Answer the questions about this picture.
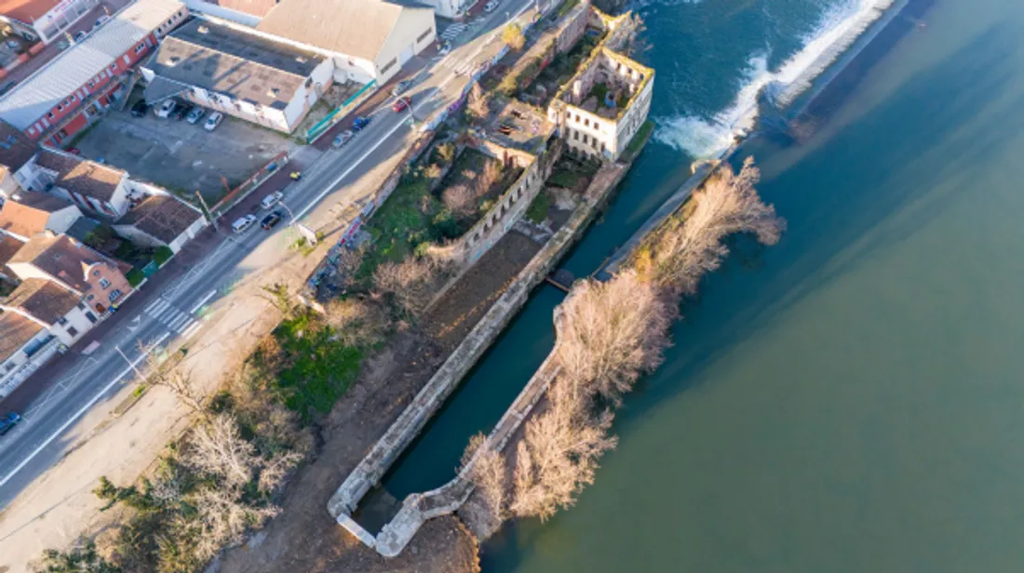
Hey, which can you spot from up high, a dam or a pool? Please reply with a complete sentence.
Looking from above, you can make out a dam.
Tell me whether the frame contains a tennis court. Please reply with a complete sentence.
No, no tennis court is visible in the view.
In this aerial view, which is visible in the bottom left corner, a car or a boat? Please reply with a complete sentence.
Visible in the bottom left corner is a car.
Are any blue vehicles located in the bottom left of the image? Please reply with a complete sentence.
Yes, a blue vehicle shows up in the bottom left of the image.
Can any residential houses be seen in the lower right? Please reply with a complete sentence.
No, no residential house is visible in the lower right.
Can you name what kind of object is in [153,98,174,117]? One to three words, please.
car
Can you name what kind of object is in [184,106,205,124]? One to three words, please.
car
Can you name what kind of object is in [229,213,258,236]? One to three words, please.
vehicle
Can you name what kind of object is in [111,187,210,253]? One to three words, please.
house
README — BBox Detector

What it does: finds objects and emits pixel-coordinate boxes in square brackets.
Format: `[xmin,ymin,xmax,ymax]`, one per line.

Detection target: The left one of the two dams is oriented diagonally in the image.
[593,159,723,288]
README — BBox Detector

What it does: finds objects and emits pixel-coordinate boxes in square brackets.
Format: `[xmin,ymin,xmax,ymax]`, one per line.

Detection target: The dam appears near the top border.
[715,0,908,151]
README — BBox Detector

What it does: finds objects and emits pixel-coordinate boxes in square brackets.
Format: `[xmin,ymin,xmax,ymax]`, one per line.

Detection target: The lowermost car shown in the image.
[0,410,22,437]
